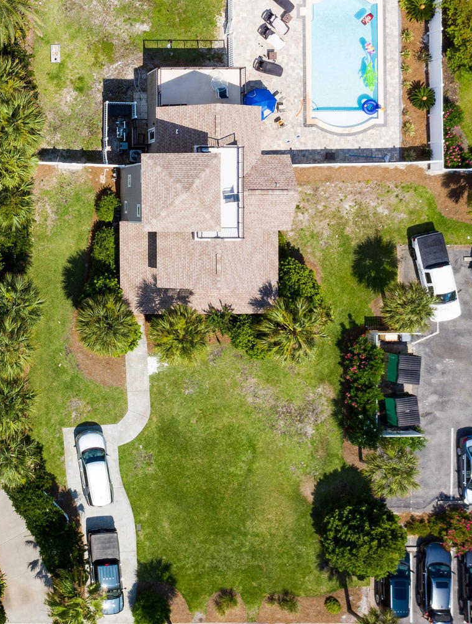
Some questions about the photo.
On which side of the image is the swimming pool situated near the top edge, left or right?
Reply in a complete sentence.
It is on the right.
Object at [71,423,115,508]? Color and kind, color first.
white car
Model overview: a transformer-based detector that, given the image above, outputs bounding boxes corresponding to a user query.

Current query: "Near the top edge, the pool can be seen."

[296,0,387,136]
